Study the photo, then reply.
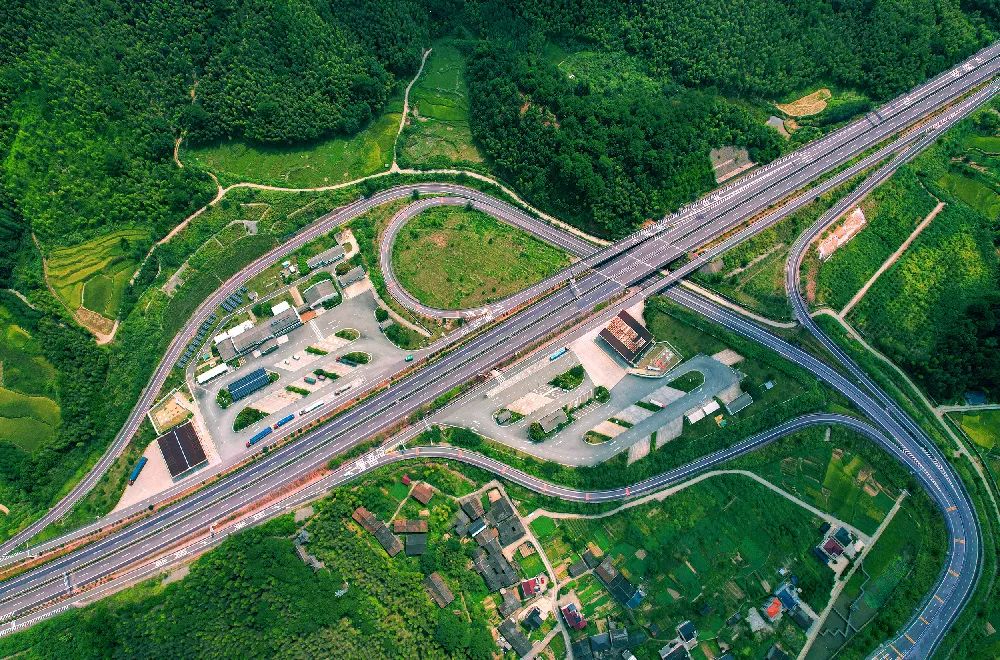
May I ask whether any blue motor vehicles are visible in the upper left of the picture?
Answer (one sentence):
No, I can find no blue motor vehicle in the upper left of the picture.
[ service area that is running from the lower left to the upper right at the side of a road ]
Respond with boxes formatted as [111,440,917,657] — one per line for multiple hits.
[113,229,446,511]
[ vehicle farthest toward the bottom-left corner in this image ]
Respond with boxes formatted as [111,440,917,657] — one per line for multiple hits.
[128,458,146,483]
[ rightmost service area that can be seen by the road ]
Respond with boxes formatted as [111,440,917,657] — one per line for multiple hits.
[436,302,744,467]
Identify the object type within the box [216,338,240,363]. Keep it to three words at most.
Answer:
building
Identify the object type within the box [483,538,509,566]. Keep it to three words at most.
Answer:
house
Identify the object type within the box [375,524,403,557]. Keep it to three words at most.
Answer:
house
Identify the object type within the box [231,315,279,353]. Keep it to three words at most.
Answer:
building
